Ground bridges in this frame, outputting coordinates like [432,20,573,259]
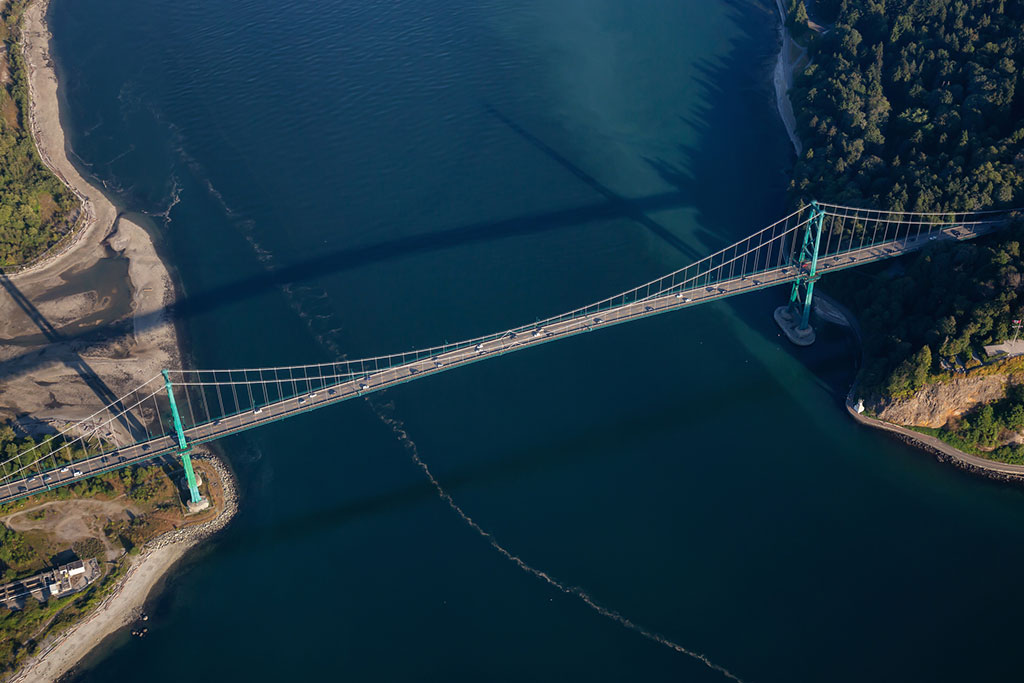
[0,201,1024,508]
